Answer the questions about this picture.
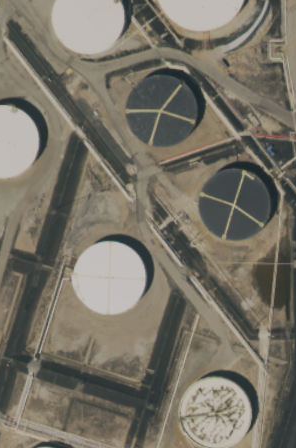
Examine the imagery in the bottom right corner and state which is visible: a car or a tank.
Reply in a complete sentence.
The one visible in the bottom right corner is a tank.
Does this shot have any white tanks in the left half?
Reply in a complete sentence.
Yes, a white tank appears in the left half.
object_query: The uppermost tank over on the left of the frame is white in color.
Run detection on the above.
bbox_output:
[51,0,125,56]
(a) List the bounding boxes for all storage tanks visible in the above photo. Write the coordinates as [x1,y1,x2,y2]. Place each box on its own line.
[72,240,146,316]
[197,168,270,242]
[124,74,198,148]
[51,0,125,56]
[0,104,40,180]
[178,376,252,448]
[156,0,244,33]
